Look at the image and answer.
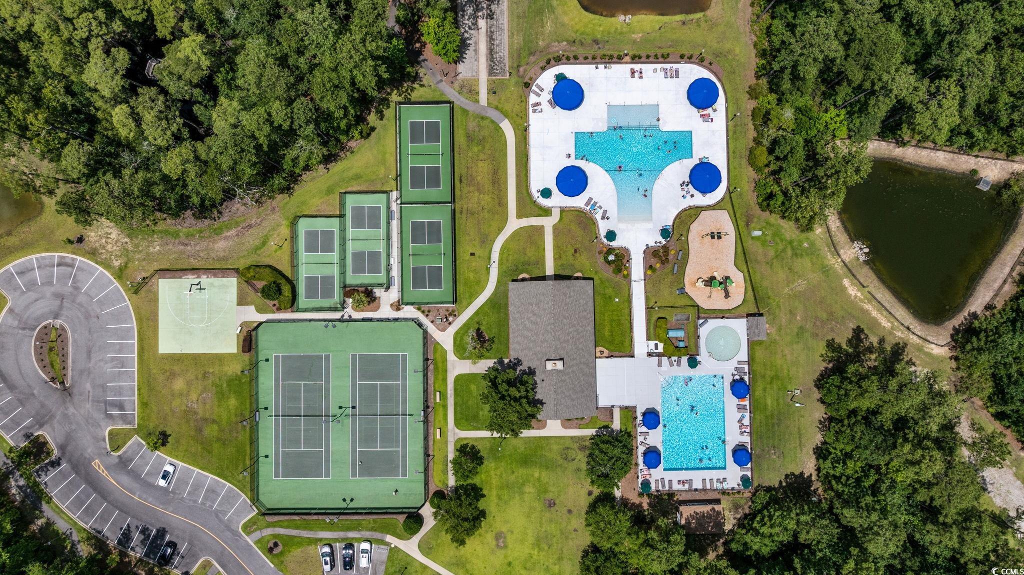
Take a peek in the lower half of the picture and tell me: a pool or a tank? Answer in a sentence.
It is a pool that can be seen in the lower half of the picture.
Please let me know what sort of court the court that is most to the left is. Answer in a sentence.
I'd identify the court that is most to the left as a basketball court.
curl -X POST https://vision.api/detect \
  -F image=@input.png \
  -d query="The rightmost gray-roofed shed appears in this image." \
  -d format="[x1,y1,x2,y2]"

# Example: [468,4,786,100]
[744,316,767,341]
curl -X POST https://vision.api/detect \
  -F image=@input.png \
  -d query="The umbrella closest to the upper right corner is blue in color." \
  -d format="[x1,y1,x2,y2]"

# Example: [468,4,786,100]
[687,77,718,110]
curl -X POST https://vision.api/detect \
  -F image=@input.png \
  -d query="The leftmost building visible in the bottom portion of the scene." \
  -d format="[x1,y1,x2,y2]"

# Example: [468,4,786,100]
[509,280,597,420]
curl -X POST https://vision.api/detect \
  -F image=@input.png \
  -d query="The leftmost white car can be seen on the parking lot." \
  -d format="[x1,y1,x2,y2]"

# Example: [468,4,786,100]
[158,462,177,487]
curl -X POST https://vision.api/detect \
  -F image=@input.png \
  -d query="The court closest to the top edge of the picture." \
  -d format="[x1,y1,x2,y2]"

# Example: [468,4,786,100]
[407,120,442,190]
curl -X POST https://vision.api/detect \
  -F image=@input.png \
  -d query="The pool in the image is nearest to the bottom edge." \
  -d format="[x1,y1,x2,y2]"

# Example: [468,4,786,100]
[660,374,729,472]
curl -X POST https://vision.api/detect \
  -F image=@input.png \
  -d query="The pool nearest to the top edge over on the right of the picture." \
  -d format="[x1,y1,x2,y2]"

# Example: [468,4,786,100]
[574,102,694,223]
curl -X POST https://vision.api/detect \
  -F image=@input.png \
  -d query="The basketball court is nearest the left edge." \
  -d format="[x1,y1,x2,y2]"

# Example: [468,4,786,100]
[158,278,237,353]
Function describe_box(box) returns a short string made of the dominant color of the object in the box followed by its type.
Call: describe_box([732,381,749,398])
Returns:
blue umbrella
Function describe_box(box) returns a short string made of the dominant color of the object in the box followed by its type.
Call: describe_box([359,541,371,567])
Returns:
white vehicle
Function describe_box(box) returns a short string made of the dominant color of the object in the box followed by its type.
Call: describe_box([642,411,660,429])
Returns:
blue umbrella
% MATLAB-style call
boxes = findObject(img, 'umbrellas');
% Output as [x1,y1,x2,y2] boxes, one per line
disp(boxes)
[687,358,698,368]
[733,449,751,466]
[642,411,660,429]
[741,479,752,489]
[556,73,566,82]
[687,77,718,110]
[689,161,721,193]
[605,230,616,241]
[643,450,661,468]
[556,165,588,197]
[732,381,749,398]
[660,228,671,239]
[552,78,584,110]
[641,482,652,493]
[541,188,551,198]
